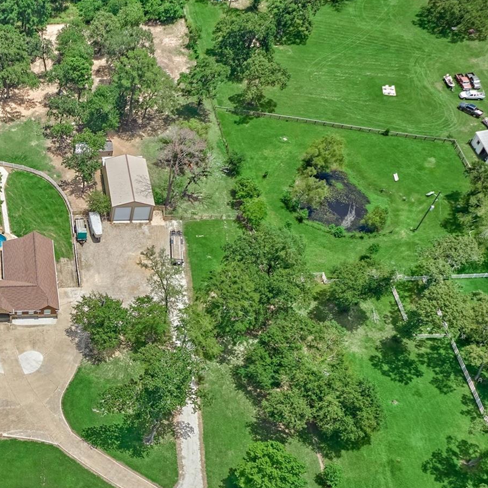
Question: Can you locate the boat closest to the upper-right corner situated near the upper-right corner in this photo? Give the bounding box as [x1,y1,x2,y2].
[444,69,458,91]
